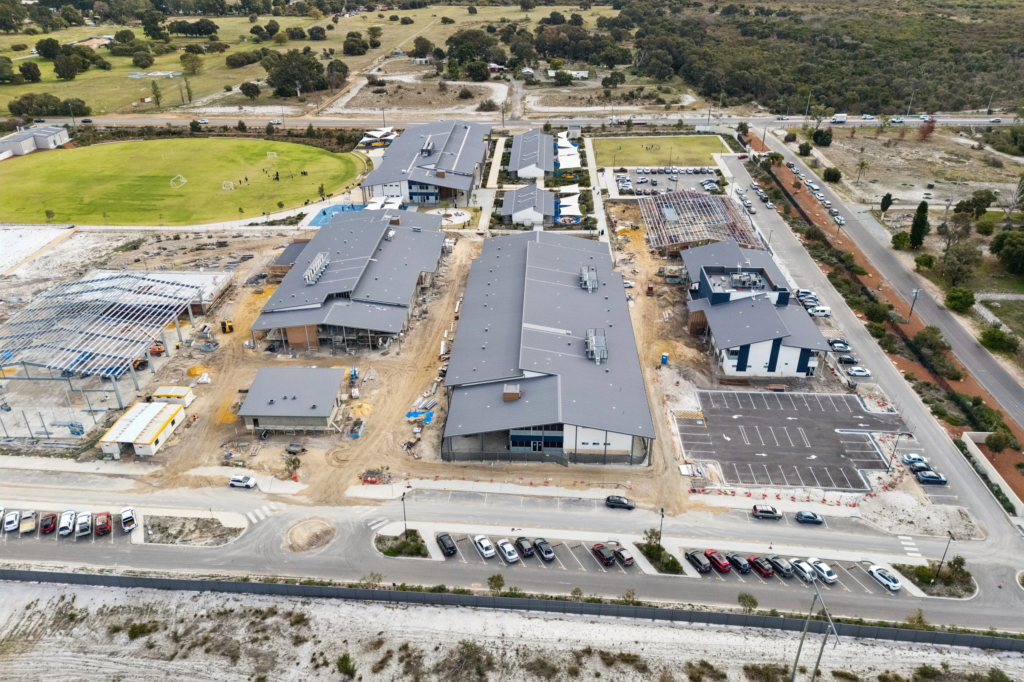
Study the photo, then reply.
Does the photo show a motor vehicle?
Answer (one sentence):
Yes, the image includes a motor vehicle.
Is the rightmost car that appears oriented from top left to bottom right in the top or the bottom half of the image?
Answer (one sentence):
It is in the bottom half that the rightmost car that appears oriented from top left to bottom right appears.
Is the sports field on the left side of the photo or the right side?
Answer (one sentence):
You can find the sports field on the left side of the picture.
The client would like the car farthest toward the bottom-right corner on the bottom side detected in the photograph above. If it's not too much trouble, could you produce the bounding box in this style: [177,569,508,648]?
[870,565,903,592]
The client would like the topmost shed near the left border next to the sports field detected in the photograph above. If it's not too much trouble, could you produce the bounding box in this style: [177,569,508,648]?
[0,113,69,155]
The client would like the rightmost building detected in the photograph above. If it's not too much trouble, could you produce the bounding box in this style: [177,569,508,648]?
[679,241,833,372]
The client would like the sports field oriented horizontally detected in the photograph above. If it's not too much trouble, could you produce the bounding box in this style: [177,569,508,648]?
[0,138,365,226]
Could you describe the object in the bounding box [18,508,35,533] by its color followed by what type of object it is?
white vehicle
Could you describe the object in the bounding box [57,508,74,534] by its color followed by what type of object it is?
white vehicle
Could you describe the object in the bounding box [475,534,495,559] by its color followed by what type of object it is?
white car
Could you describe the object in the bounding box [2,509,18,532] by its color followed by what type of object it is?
white car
